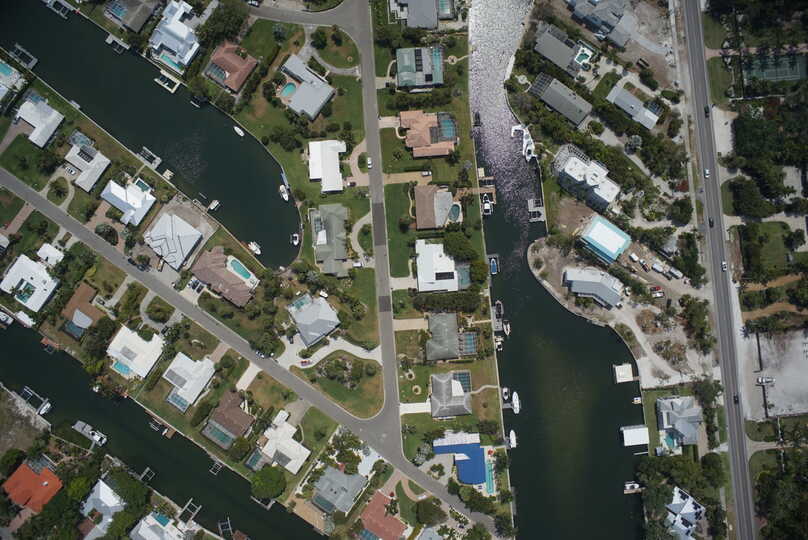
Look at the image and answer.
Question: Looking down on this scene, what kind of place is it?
residential area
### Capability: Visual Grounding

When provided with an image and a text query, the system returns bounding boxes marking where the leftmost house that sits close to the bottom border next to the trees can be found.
[3,453,66,513]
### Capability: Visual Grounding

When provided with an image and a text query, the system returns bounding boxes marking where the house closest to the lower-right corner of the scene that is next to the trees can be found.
[664,487,705,540]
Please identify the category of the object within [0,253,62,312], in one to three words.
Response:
house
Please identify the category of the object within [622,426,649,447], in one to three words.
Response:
building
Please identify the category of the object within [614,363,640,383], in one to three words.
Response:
building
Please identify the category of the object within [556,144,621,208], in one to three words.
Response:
house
